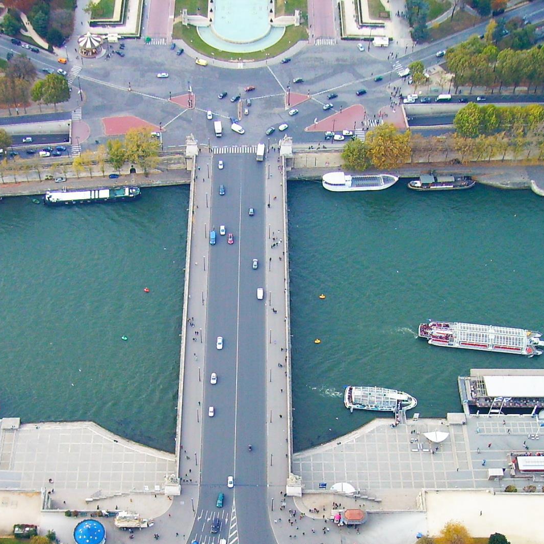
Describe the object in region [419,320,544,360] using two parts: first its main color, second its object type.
white boat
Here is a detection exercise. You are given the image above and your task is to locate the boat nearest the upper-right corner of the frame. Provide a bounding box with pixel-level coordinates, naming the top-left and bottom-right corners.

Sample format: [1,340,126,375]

[405,173,478,191]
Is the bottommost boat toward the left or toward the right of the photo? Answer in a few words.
right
